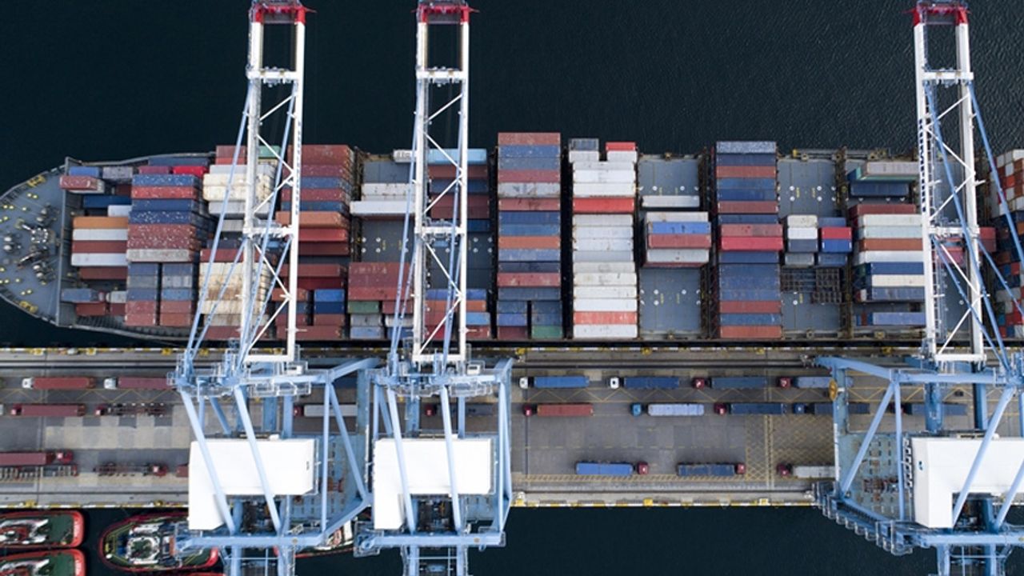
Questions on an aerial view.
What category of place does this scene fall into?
port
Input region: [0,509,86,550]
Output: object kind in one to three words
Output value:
boat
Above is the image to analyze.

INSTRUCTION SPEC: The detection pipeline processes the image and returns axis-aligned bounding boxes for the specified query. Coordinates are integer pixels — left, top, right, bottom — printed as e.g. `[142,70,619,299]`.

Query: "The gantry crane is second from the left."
[344,0,533,576]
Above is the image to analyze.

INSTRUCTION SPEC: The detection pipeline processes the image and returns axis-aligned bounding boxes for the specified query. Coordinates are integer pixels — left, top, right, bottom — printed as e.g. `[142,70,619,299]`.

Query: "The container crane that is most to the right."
[799,0,1024,576]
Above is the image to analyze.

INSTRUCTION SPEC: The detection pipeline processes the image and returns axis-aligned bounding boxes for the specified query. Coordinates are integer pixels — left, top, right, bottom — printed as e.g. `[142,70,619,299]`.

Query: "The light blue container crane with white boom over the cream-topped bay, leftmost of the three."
[162,0,397,576]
